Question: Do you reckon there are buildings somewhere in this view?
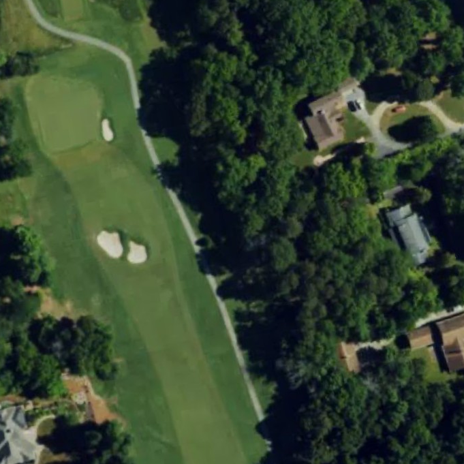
Yes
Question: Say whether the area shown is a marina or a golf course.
golf course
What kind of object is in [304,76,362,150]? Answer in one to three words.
house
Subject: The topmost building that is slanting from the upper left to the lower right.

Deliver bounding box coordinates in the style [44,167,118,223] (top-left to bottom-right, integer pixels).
[387,204,432,266]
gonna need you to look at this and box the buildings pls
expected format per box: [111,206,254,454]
[433,314,464,376]
[304,76,362,150]
[407,326,434,350]
[387,204,432,266]
[338,342,362,374]
[0,405,44,464]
